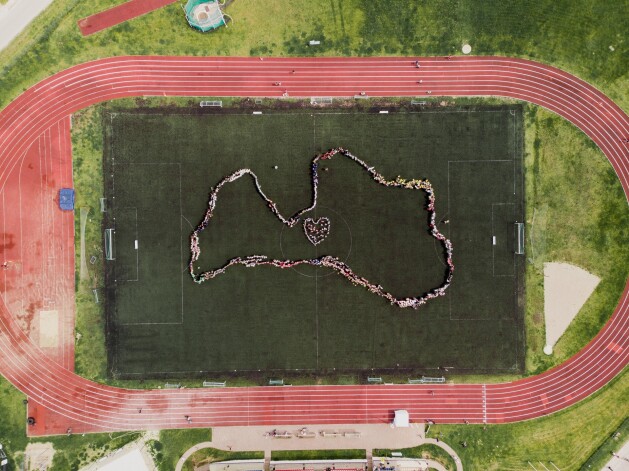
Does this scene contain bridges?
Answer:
No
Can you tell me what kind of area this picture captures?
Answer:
sports ground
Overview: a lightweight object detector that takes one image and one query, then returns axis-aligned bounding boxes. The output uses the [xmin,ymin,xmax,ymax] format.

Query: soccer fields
[106,105,526,380]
